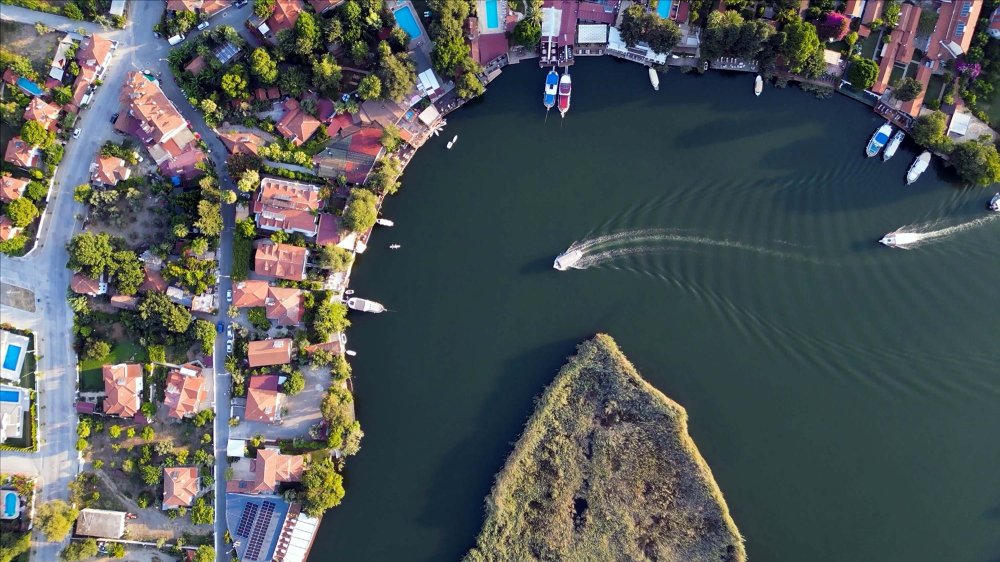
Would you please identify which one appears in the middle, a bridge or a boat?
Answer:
boat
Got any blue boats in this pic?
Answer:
Yes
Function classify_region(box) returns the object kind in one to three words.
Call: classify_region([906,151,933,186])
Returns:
boat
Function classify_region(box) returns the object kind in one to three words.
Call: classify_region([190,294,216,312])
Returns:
building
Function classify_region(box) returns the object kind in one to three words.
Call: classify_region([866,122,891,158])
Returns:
boat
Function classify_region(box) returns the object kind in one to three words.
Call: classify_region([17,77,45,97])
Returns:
swimming pool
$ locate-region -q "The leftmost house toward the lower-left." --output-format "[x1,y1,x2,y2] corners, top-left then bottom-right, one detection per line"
[0,398,32,439]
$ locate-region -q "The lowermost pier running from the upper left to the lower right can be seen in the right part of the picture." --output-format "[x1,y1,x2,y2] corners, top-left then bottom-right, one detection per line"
[874,103,916,134]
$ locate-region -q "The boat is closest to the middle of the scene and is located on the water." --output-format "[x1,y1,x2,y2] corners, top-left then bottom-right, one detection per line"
[552,248,586,269]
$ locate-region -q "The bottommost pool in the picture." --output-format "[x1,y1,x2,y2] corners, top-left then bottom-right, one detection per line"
[2,490,20,520]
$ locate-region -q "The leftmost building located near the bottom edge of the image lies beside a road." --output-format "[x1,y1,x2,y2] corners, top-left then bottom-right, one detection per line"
[75,507,130,540]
